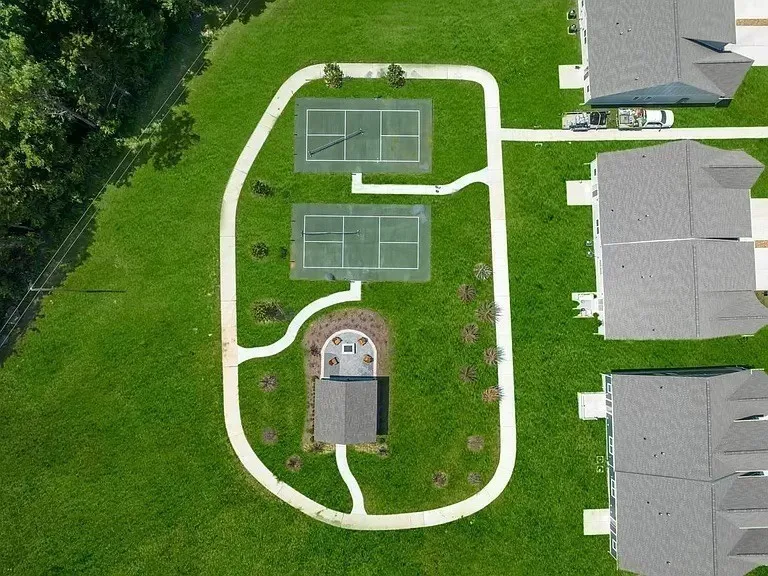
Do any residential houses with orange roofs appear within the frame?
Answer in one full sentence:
No, there's no residential house with an orange roof here.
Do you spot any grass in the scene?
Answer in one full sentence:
Yes, the picture does contain grass.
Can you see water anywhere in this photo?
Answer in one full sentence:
No, the scene doesn't show any water.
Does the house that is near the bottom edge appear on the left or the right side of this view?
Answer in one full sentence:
The house that is near the bottom edge sits on the right side.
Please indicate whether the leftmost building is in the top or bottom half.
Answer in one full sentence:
The bottom half of the photo is where the leftmost building is.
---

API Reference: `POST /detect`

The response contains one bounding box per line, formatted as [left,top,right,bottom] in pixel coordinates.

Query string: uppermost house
[580,0,752,105]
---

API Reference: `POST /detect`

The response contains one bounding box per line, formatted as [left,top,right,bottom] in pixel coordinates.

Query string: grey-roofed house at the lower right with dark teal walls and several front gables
[599,370,768,576]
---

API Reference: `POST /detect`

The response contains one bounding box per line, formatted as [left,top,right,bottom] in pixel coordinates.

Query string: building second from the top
[586,140,768,340]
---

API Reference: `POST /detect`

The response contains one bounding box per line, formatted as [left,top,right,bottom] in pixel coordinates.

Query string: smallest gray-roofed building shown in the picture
[315,380,376,445]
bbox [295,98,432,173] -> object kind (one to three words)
sports court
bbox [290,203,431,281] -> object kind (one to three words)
sports court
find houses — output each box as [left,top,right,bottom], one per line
[599,370,768,576]
[580,0,752,105]
[586,140,768,340]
